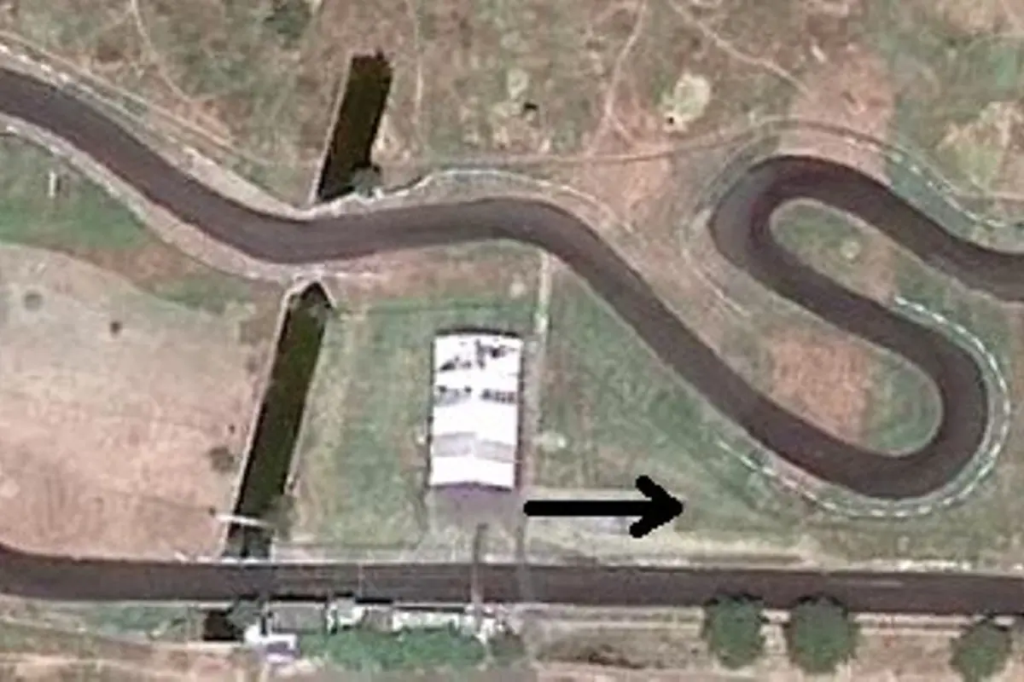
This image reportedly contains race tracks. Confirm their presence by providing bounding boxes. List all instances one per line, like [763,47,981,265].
[0,66,1024,499]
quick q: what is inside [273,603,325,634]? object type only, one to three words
shed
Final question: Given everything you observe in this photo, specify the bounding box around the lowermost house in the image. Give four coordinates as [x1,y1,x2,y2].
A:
[257,634,298,663]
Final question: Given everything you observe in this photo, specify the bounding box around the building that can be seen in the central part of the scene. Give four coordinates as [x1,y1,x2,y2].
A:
[428,336,523,491]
